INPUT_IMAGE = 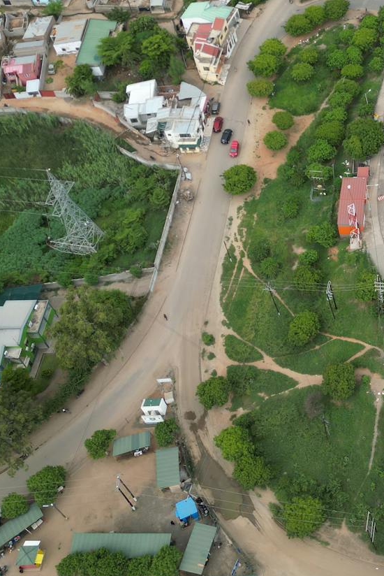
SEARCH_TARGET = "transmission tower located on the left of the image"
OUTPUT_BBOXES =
[39,166,104,257]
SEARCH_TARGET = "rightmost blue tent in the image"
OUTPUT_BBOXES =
[175,497,201,523]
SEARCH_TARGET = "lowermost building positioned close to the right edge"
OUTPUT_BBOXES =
[338,177,370,233]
